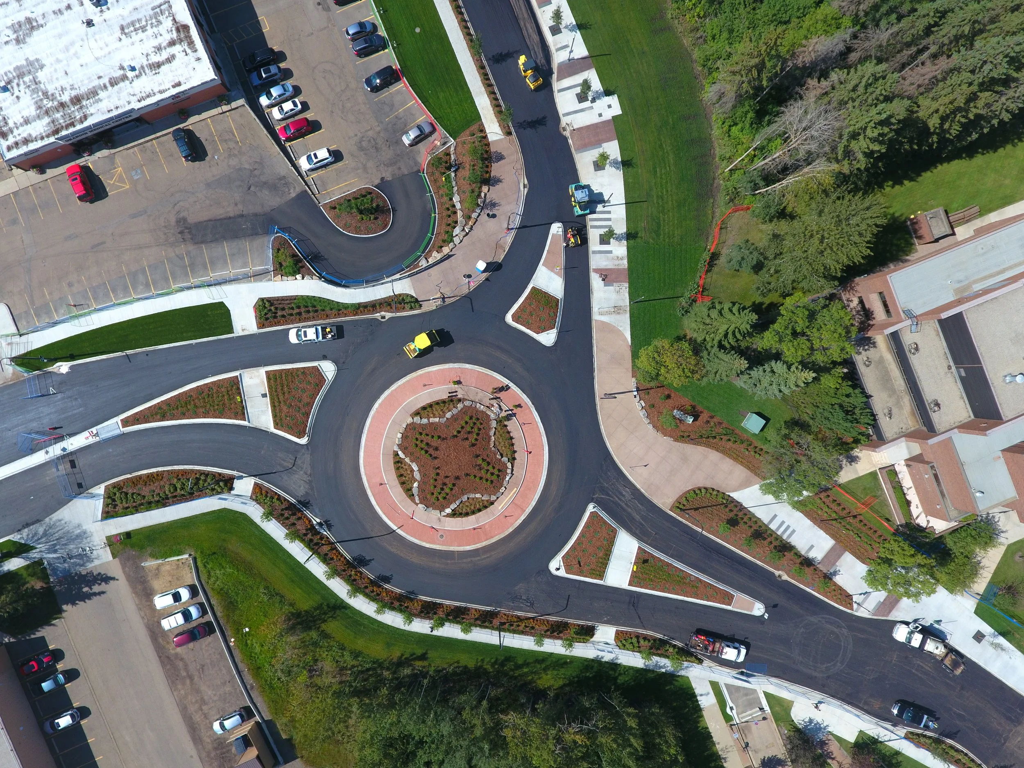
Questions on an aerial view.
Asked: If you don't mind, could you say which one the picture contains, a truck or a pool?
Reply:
truck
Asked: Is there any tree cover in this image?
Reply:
Yes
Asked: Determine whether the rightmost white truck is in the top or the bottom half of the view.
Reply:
bottom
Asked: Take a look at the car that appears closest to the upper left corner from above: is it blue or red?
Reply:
red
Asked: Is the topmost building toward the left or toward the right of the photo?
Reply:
left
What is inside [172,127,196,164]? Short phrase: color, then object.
black car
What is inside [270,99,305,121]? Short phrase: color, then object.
white car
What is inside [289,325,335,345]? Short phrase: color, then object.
white vehicle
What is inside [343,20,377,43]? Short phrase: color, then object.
blue car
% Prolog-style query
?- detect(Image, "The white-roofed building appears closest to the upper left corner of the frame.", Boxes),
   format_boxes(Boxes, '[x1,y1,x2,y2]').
[0,0,226,166]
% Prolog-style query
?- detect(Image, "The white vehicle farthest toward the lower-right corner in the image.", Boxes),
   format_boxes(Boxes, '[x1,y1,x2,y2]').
[891,621,951,660]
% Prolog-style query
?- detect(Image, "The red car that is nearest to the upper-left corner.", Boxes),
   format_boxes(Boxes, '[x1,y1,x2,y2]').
[68,164,95,205]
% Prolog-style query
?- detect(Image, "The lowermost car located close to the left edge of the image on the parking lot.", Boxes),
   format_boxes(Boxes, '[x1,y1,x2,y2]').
[44,707,82,733]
